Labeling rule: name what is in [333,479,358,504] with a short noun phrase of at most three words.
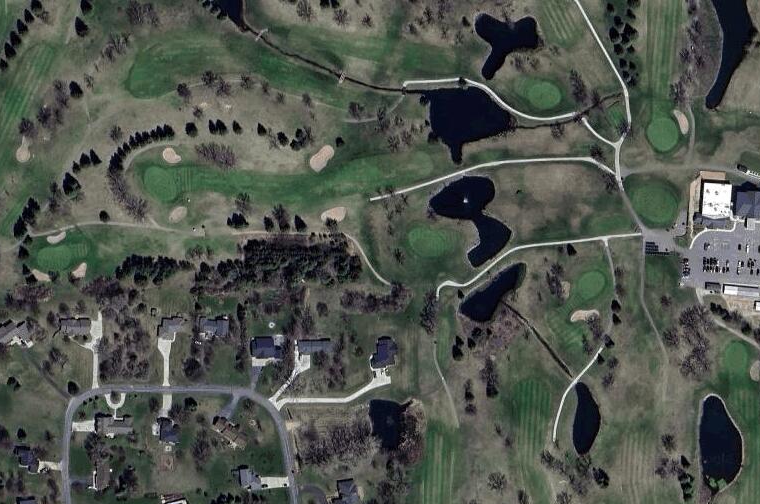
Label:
house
